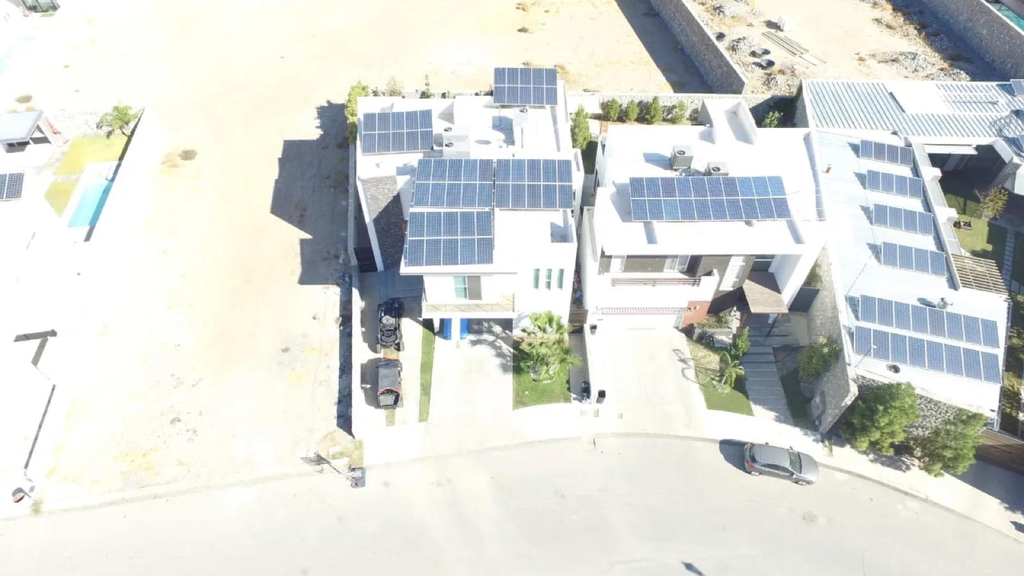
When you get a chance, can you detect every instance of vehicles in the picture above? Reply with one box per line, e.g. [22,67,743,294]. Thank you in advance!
[371,300,405,351]
[371,358,406,413]
[743,442,820,490]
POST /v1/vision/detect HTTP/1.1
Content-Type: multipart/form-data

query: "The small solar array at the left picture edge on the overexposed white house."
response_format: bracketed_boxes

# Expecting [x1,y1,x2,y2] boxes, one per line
[0,173,27,200]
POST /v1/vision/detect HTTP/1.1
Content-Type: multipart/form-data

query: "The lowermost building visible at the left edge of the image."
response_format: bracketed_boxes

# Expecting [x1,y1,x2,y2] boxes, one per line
[0,165,77,346]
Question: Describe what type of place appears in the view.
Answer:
residential area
